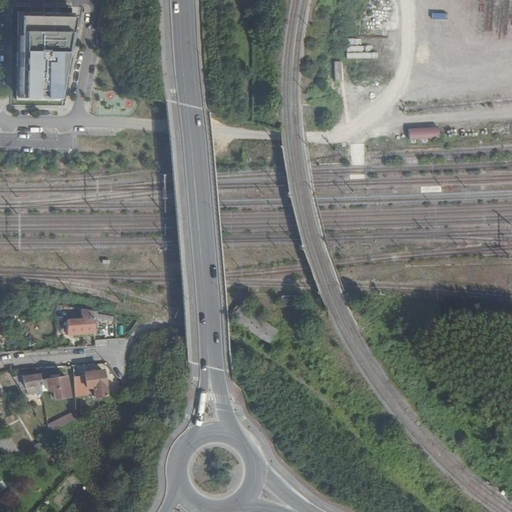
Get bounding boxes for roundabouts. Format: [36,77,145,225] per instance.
[148,366,356,512]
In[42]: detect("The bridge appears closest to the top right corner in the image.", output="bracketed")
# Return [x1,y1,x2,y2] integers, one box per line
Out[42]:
[280,127,347,308]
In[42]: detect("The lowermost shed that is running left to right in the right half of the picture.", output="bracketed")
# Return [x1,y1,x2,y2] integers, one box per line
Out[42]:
[410,126,441,139]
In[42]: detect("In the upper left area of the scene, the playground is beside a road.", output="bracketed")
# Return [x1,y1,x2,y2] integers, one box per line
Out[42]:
[95,90,136,116]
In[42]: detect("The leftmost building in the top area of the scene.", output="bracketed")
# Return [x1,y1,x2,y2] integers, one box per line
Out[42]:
[12,12,78,106]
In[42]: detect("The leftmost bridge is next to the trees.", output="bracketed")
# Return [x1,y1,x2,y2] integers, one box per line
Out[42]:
[165,97,230,376]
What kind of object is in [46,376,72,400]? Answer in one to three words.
house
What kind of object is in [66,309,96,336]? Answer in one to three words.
house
